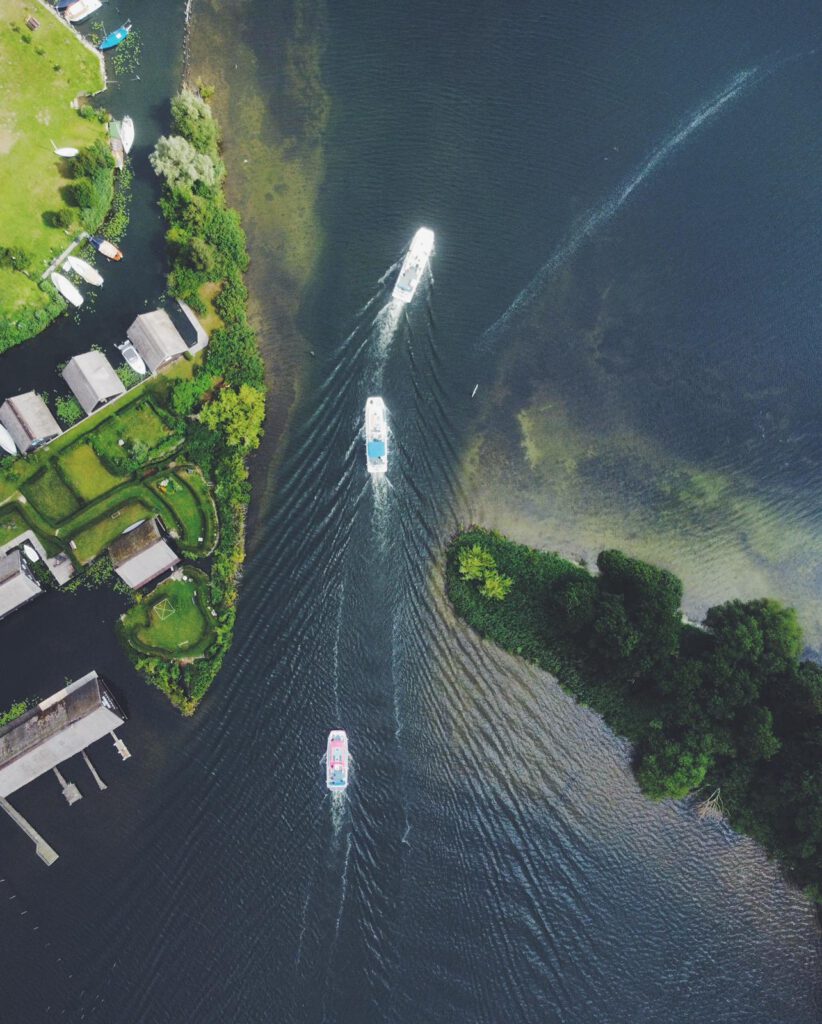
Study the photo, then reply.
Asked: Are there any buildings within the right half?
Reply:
No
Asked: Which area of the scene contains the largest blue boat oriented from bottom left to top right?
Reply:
top left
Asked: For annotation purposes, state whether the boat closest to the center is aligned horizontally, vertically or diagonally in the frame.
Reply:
vertically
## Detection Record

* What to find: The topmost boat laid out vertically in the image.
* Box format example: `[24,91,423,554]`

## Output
[120,116,133,154]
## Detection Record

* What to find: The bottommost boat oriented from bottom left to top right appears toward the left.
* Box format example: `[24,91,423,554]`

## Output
[120,519,145,535]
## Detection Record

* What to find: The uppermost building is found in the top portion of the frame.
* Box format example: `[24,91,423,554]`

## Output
[127,308,190,373]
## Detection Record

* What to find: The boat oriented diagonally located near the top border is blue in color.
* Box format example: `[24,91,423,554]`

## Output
[99,24,133,49]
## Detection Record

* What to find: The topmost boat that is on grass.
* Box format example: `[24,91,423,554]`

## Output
[50,139,79,156]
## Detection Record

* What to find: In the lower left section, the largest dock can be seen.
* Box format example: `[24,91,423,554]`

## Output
[1,798,59,866]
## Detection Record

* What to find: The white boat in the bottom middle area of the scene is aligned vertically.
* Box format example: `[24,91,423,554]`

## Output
[325,731,350,799]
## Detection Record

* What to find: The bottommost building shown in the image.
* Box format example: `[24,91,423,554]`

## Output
[0,671,128,801]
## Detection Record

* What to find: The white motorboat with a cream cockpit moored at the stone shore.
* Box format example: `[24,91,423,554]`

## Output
[62,0,103,23]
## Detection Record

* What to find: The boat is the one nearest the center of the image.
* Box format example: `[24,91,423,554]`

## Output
[364,396,388,476]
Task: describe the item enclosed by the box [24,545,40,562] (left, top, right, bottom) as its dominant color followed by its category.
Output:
white boat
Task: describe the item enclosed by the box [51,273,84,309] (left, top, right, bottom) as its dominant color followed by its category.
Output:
white boat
